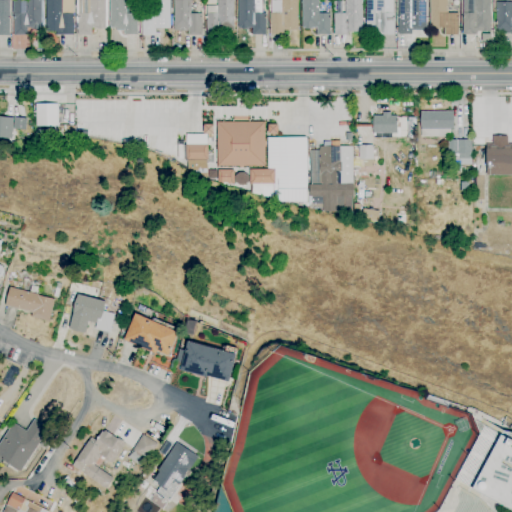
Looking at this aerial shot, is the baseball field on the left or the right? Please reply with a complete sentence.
The baseball field appears in the right half of the scene.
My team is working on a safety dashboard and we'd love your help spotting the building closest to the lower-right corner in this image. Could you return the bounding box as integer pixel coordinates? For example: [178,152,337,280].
[472,434,512,508]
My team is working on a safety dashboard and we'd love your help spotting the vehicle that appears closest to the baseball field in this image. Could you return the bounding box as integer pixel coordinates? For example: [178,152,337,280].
[210,414,236,428]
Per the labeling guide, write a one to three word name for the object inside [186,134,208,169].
building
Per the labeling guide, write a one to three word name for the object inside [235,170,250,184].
gazebo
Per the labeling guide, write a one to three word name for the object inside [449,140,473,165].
house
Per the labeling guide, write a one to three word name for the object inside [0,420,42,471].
house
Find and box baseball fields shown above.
[224,347,478,512]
